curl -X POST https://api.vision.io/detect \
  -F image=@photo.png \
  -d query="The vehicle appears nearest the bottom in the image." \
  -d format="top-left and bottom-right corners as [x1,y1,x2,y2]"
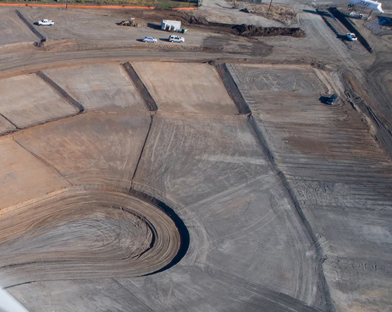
[325,90,338,103]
